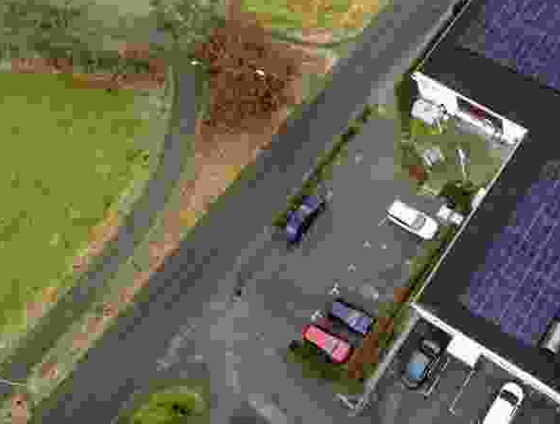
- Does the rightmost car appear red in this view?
No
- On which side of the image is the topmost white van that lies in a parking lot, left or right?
right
